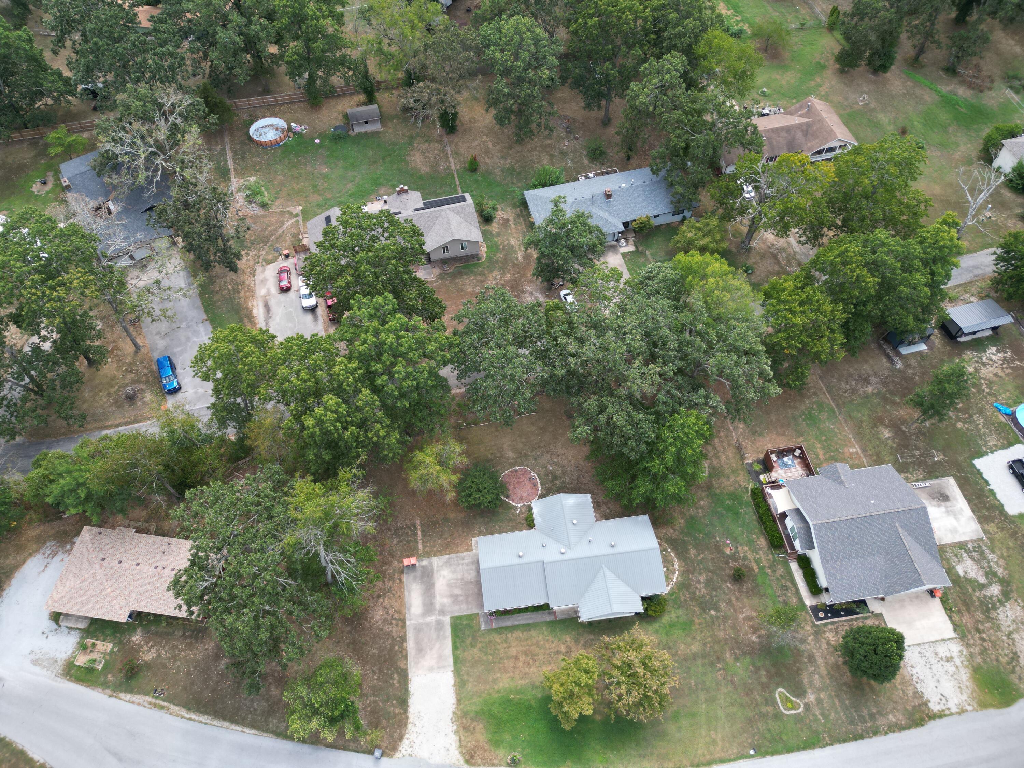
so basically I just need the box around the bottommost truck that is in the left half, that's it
[152,349,179,390]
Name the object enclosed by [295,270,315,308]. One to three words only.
vehicle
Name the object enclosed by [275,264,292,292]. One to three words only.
car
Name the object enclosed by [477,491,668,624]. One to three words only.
house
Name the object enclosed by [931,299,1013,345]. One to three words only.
shed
